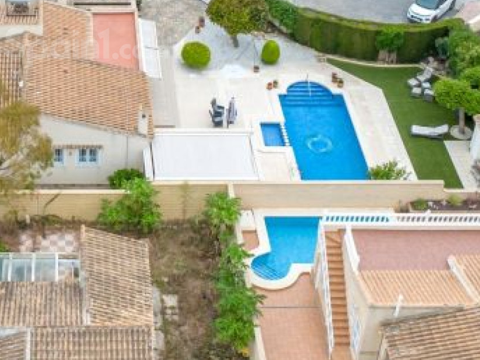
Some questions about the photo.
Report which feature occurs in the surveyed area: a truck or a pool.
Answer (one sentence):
It is a pool that can be seen here.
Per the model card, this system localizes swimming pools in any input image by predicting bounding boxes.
[256,119,291,147]
[272,76,379,179]
[238,202,337,316]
